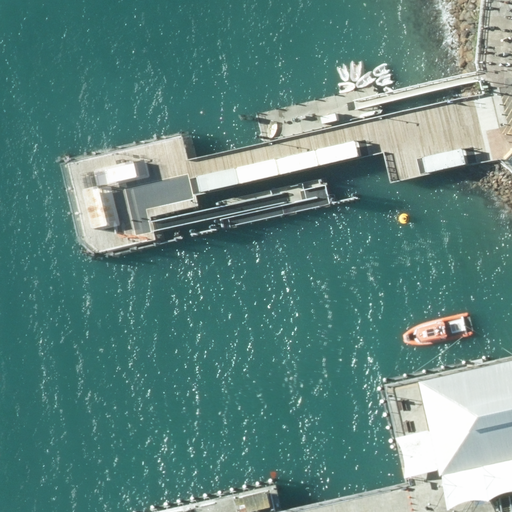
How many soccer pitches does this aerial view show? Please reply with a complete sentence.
There are no soccer pitches in the image.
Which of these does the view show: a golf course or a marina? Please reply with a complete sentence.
This image shows a marina.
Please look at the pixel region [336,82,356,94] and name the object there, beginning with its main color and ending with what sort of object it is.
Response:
white boat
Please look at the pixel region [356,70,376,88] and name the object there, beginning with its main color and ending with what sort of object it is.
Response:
white boat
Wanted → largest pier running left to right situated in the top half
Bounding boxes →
[56,92,491,259]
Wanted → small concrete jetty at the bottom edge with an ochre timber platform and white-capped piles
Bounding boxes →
[140,482,280,512]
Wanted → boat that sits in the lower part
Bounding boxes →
[402,313,478,345]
